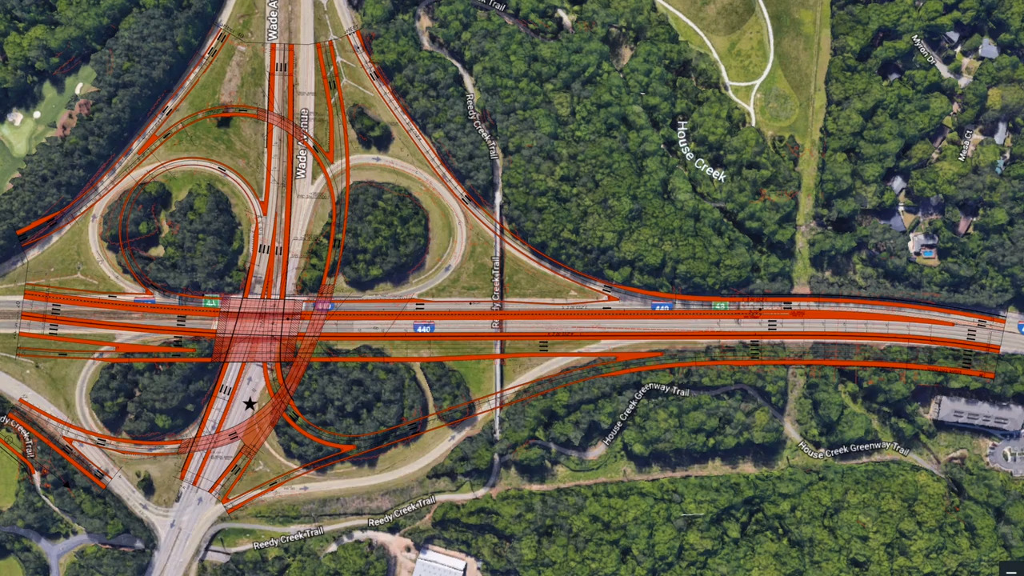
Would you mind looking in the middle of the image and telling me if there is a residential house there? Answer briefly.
No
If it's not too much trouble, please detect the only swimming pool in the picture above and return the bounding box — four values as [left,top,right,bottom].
[919,244,937,261]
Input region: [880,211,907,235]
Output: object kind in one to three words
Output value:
house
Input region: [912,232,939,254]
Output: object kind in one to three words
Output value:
house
